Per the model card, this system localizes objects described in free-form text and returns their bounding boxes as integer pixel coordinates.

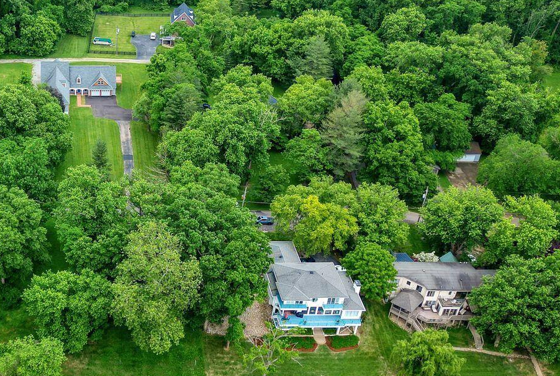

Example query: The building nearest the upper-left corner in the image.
[38,62,123,111]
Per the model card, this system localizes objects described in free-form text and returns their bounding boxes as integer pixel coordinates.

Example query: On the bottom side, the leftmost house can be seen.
[266,240,366,338]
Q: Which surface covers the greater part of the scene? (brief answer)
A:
trees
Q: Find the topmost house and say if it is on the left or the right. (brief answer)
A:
left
